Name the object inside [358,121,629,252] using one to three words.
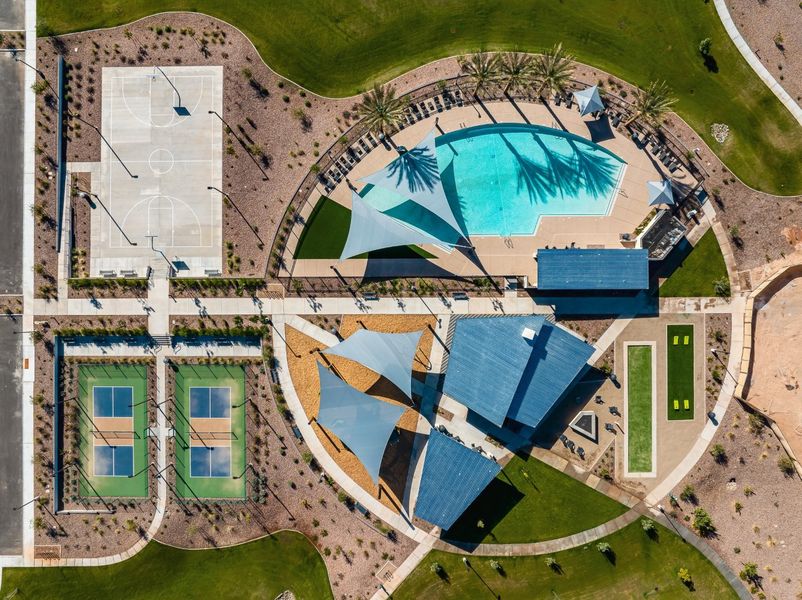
swimming pool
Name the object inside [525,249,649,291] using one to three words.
building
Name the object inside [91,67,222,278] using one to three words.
basketball court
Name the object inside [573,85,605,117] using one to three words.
umbrella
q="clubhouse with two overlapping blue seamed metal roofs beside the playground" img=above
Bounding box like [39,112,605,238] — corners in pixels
[443,316,596,428]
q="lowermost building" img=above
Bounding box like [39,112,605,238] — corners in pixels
[414,428,502,530]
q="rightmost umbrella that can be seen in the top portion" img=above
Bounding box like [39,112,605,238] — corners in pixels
[647,180,674,206]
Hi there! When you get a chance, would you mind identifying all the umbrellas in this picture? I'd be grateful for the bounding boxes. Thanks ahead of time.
[573,85,605,117]
[647,180,674,206]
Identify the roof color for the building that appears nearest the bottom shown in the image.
blue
